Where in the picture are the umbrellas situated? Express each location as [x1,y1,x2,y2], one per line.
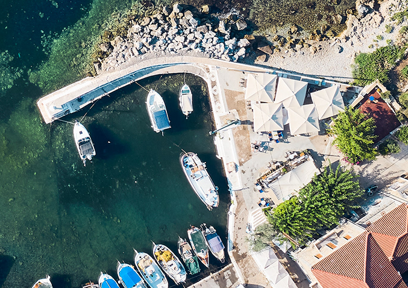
[306,82,344,120]
[268,271,296,288]
[272,73,307,106]
[242,71,275,103]
[250,102,281,132]
[286,103,319,136]
[249,242,280,269]
[258,260,286,286]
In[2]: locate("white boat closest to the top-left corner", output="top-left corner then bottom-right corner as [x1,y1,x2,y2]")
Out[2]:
[58,113,94,163]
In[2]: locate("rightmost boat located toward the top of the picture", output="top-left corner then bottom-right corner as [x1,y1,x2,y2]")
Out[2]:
[177,86,193,117]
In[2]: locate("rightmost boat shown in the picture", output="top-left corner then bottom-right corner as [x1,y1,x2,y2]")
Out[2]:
[205,225,227,267]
